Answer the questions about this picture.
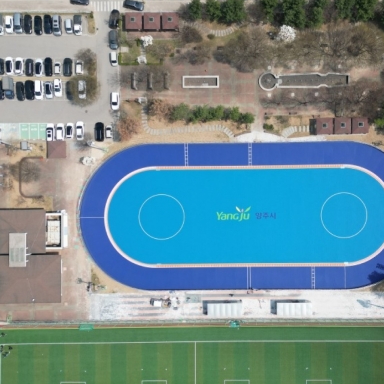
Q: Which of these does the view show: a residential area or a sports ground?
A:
sports ground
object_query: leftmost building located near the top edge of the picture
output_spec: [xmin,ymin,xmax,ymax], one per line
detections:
[125,12,143,32]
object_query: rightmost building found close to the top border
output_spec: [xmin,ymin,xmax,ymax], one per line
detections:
[162,12,179,32]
